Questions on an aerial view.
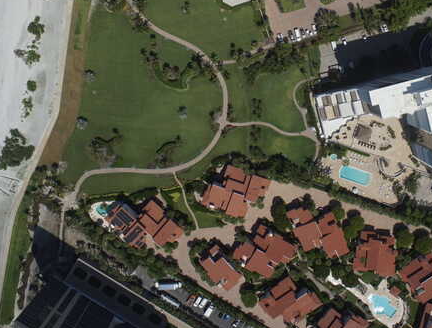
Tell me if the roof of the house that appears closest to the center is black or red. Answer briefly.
red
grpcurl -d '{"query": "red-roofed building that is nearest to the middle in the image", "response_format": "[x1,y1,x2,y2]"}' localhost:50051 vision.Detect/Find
[202,163,271,217]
